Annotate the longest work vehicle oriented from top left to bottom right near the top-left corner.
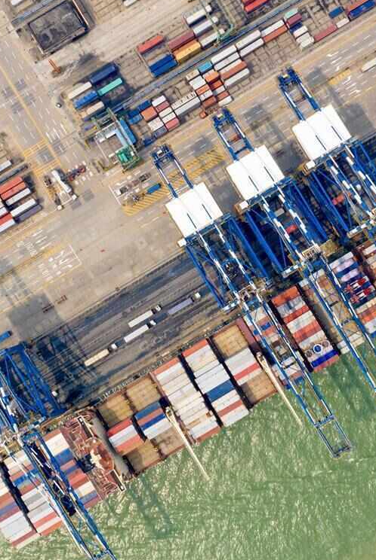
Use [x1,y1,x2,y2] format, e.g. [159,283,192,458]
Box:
[46,52,63,74]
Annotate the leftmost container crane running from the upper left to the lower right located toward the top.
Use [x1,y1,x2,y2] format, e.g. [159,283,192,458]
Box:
[98,103,149,166]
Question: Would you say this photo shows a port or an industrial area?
port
